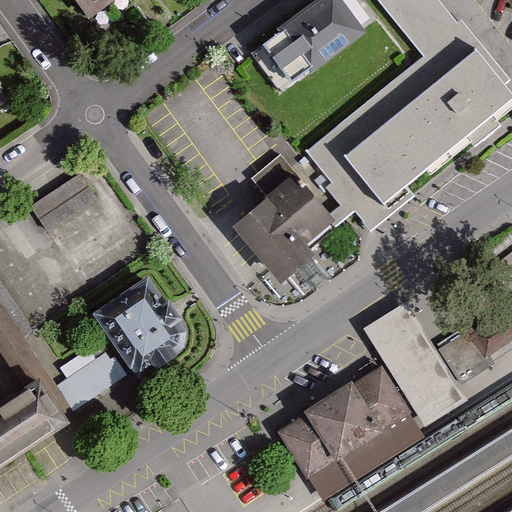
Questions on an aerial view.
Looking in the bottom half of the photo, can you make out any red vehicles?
Yes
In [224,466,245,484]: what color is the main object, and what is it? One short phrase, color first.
red car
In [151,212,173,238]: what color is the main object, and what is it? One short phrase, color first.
white vehicle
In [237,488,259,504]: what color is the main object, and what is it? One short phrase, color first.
red car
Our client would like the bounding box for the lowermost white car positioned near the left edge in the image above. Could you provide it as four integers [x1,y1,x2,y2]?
[2,146,26,164]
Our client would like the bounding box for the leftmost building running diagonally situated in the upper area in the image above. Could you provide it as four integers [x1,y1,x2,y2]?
[34,177,96,230]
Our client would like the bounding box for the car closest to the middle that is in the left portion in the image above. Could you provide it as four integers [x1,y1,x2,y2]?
[168,236,189,260]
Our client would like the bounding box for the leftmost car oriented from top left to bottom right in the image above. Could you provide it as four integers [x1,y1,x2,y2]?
[34,50,51,70]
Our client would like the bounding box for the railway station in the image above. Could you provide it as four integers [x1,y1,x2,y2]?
[278,366,425,502]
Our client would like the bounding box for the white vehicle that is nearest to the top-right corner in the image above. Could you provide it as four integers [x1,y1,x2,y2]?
[426,199,451,216]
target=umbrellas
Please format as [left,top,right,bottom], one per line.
[95,11,110,26]
[114,0,130,11]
